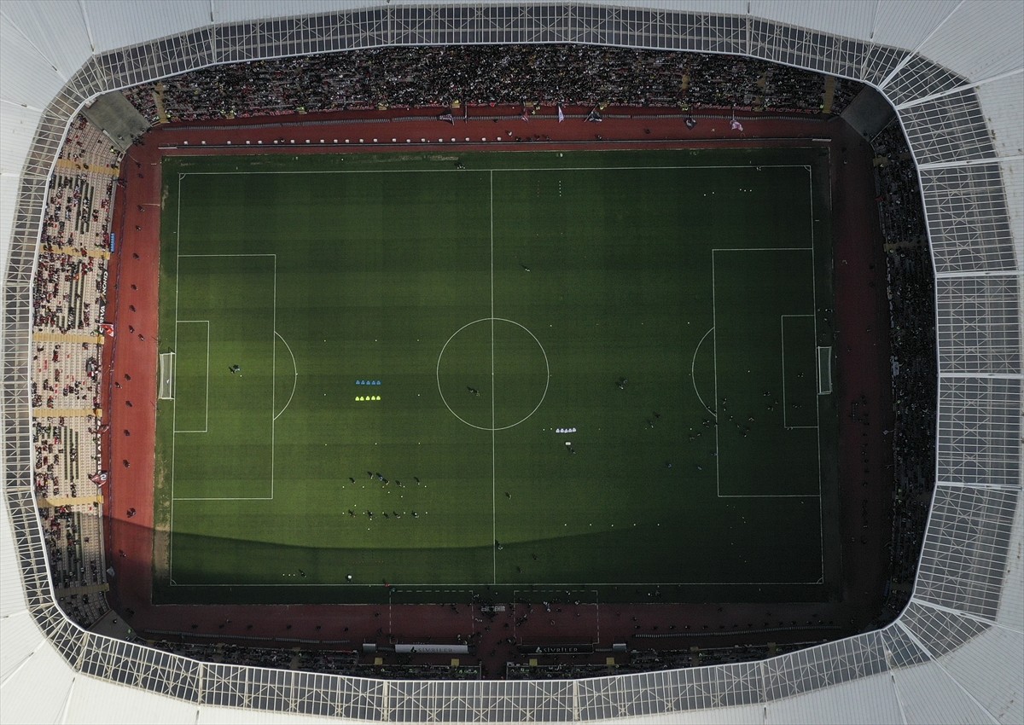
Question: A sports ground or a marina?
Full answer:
This looks like a sports ground.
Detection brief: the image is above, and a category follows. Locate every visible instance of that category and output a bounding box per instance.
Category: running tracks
[107,109,889,679]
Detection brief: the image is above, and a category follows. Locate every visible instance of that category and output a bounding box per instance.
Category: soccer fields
[151,146,844,642]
